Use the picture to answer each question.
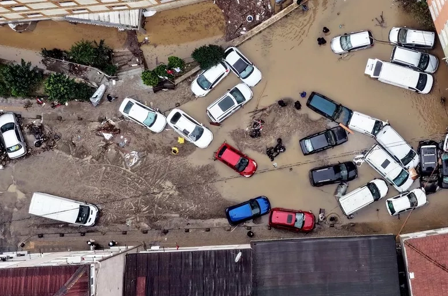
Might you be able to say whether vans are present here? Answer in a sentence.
Yes, a van appears in the view.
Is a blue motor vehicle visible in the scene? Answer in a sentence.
Yes, a blue motor vehicle is visible in the scene.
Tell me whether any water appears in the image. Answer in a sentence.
Yes, water shows up in the scene.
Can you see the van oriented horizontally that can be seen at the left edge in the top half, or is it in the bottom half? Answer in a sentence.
The bottom half of the photo is where the van oriented horizontally that can be seen at the left edge is.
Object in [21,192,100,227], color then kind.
white van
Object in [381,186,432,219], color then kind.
white car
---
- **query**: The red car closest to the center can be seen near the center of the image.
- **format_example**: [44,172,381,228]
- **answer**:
[214,140,258,179]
